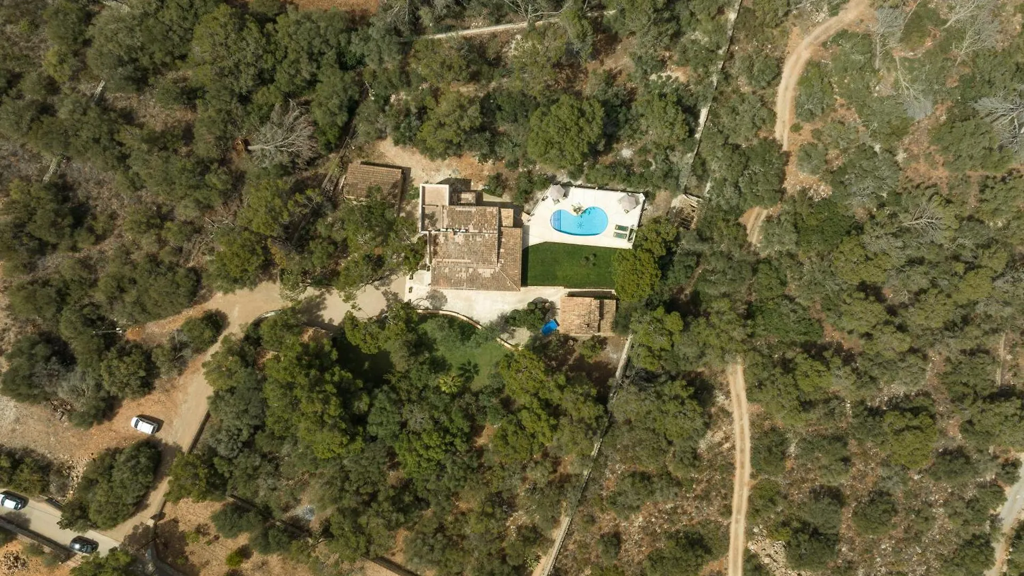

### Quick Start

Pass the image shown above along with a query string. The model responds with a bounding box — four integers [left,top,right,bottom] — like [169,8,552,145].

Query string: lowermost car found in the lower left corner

[70,534,100,553]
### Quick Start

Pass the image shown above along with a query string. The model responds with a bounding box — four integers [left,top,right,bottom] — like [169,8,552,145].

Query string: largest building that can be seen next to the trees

[420,184,523,292]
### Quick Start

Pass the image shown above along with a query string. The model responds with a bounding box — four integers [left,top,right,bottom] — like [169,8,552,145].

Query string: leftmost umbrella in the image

[548,183,565,201]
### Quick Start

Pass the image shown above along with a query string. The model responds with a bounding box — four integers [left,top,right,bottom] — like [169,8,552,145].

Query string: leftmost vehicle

[0,491,26,511]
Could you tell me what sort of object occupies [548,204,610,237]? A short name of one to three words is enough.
swimming pool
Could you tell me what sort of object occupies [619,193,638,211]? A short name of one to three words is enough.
umbrella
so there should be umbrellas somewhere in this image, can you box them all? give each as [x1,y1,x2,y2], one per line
[548,183,565,201]
[619,193,638,211]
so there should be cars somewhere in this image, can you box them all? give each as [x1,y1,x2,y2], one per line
[0,491,26,511]
[130,415,160,435]
[70,534,100,553]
